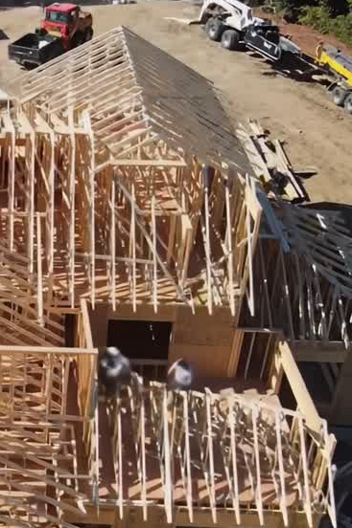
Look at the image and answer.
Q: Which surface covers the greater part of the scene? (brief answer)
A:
buildings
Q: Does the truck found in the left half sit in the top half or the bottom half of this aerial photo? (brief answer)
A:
top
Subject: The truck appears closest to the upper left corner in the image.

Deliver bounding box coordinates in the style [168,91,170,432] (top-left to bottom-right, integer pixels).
[11,0,102,62]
